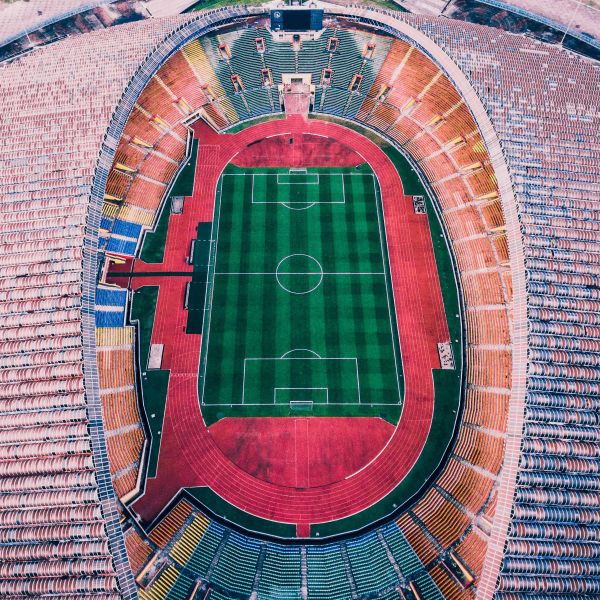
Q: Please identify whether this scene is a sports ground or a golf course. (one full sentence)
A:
It's a sports ground.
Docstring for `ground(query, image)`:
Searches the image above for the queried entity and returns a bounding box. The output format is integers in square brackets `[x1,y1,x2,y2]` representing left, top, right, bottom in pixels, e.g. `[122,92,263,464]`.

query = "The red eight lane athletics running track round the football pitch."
[121,114,450,537]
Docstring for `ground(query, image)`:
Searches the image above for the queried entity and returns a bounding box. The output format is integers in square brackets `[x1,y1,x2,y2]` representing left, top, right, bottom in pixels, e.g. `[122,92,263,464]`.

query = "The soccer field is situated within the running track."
[197,163,404,451]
